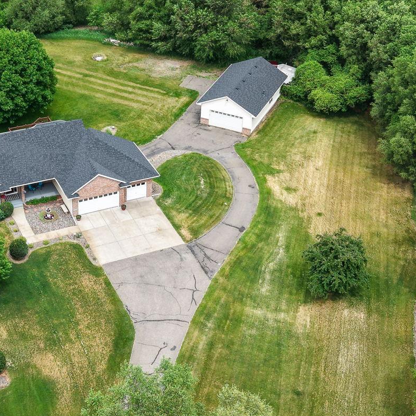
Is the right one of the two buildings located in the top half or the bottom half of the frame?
top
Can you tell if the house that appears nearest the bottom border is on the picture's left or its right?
left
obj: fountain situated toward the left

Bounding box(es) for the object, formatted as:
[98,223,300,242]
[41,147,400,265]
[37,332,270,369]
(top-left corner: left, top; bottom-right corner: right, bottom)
[39,206,58,222]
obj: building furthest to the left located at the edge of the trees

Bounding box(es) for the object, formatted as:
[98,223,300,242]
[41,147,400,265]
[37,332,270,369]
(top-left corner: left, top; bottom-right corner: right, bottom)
[0,111,161,224]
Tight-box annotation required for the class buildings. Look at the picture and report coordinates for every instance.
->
[0,111,161,224]
[195,57,289,135]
